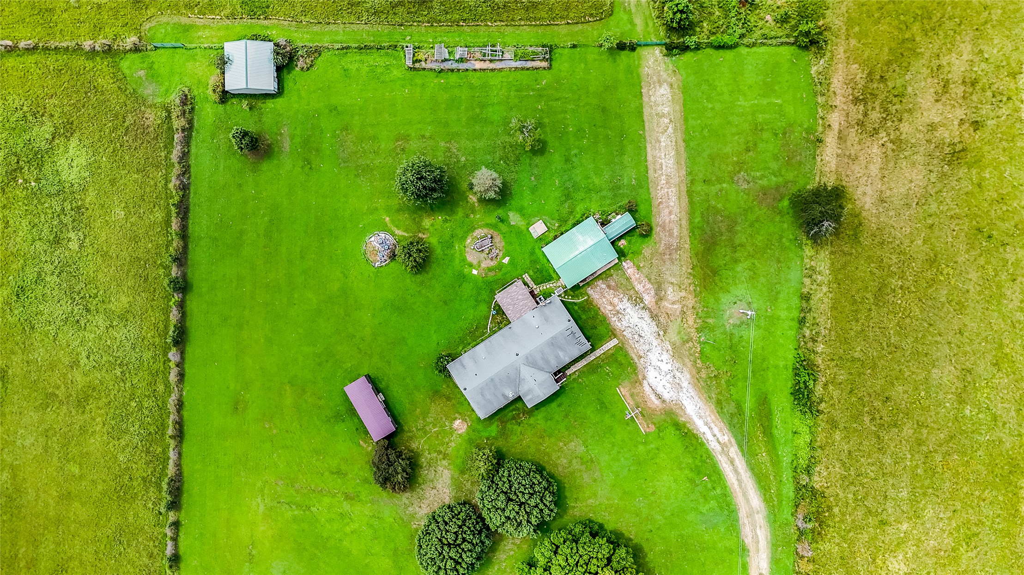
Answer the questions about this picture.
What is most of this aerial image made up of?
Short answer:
grass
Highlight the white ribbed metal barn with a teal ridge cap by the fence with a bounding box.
[224,39,278,93]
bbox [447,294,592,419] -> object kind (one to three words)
house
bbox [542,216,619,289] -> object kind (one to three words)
building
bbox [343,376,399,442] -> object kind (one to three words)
shed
